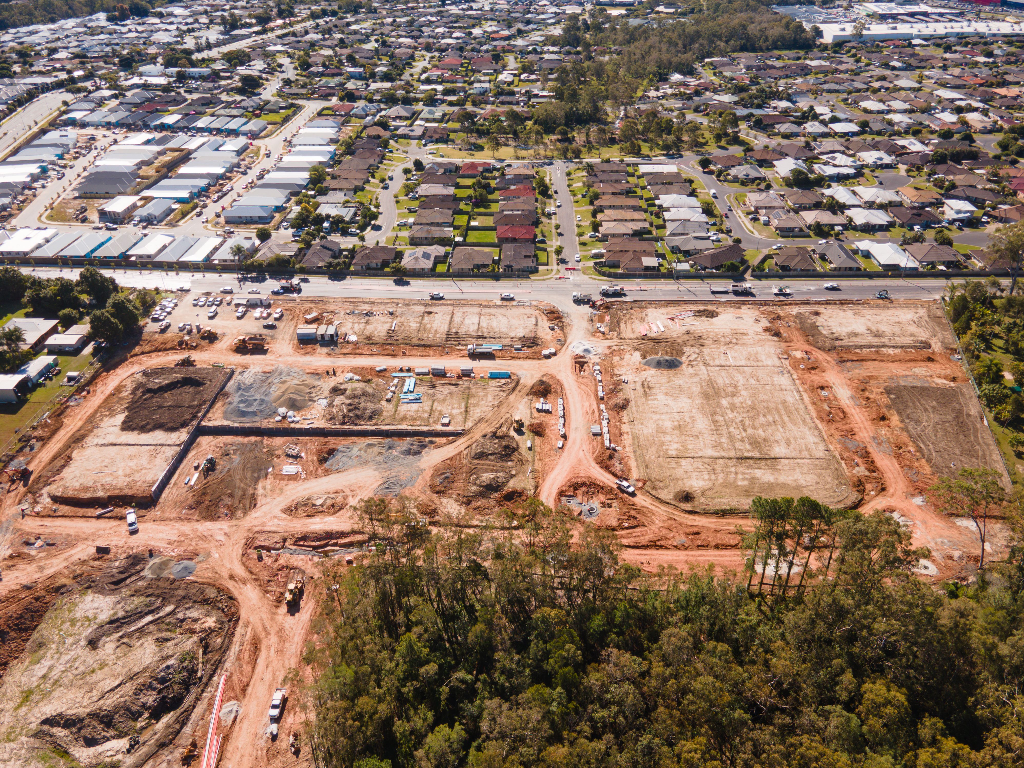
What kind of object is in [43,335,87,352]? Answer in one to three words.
shed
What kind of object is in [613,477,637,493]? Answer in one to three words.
vehicle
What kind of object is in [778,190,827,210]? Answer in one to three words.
house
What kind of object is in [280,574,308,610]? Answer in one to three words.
work vehicle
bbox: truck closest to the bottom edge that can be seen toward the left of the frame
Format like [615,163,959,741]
[266,687,289,719]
